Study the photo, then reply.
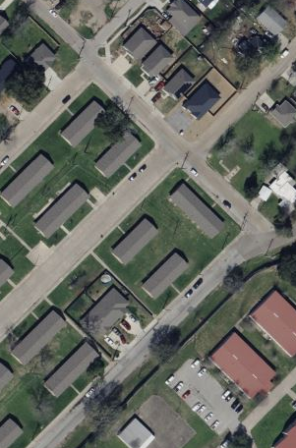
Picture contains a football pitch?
No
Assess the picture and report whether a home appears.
Yes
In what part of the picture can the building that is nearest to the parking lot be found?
bottom right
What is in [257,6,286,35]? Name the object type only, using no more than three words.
house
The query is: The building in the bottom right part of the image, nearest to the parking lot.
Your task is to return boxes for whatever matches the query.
[211,332,274,398]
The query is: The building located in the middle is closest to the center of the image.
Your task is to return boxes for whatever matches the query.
[112,217,157,263]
